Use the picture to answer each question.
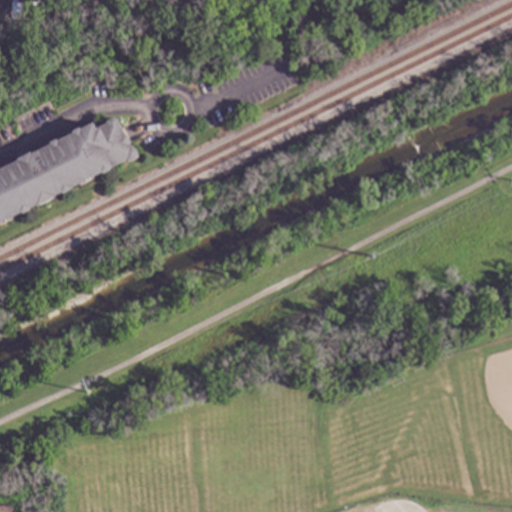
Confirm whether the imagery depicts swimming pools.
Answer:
No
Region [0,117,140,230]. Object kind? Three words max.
building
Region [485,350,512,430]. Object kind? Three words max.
baseball field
